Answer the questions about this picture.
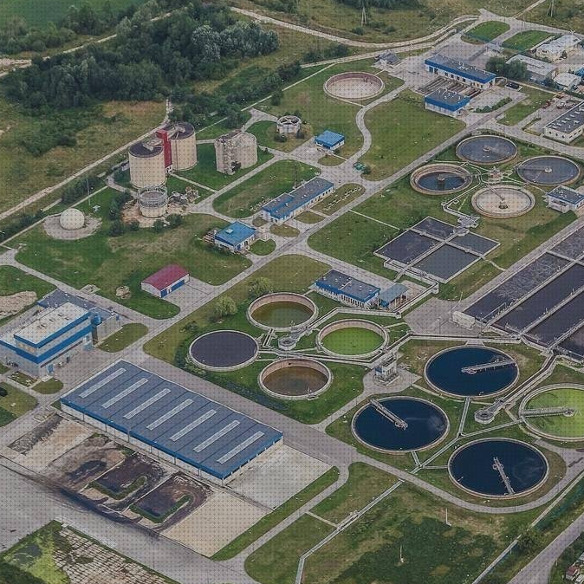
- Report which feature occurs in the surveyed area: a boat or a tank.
tank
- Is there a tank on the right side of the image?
Yes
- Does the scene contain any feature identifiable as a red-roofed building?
Yes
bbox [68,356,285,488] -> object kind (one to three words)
building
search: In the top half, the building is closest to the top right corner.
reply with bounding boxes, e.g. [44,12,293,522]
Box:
[531,35,582,64]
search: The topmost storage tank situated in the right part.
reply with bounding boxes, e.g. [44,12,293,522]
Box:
[323,74,385,102]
